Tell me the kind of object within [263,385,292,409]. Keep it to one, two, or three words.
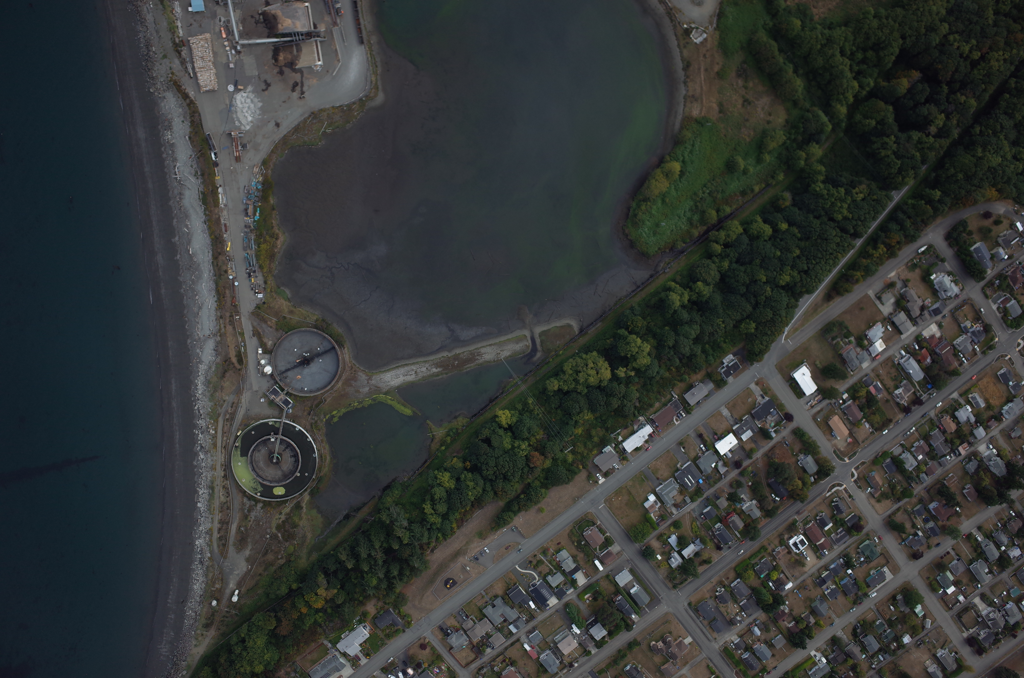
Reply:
building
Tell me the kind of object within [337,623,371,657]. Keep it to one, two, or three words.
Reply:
house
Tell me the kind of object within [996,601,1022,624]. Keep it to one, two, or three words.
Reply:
house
